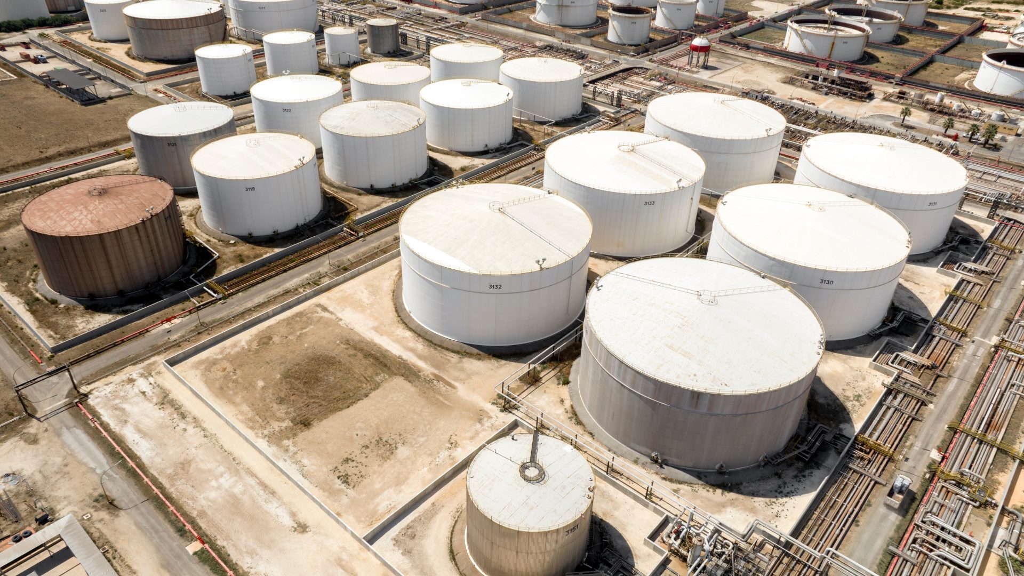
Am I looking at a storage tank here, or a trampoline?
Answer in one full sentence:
The image shows a storage tank.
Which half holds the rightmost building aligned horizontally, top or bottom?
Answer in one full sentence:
The rightmost building aligned horizontally is in the top half of the image.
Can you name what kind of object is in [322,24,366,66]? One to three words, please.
storage tank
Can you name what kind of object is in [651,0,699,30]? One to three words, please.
storage tank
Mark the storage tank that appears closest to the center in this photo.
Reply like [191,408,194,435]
[394,178,597,351]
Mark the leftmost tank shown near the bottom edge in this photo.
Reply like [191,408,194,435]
[450,418,603,576]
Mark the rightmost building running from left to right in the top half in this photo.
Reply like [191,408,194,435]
[980,120,1023,142]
